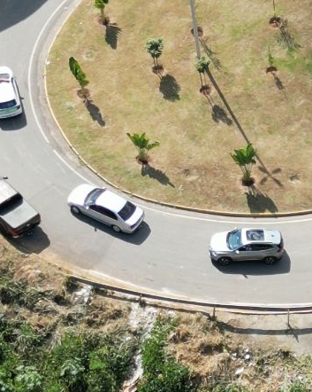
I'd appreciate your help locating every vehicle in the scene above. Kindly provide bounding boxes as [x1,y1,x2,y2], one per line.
[0,70,22,128]
[205,224,288,267]
[0,178,40,245]
[63,182,143,238]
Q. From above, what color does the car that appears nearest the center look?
white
